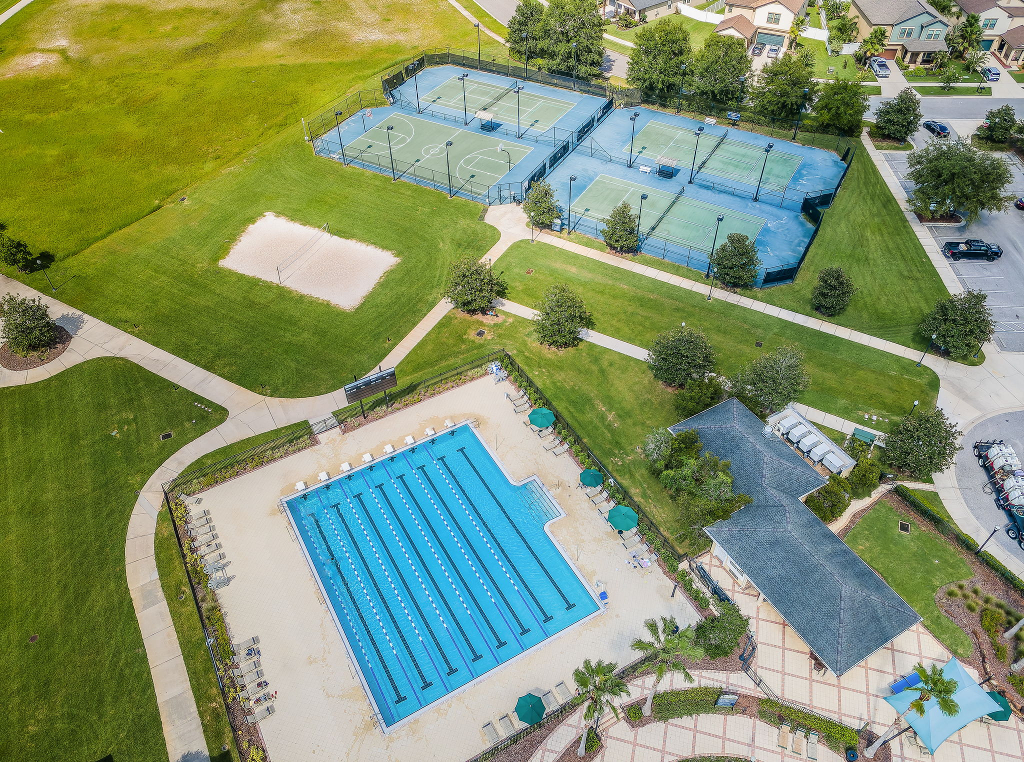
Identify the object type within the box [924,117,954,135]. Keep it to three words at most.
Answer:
car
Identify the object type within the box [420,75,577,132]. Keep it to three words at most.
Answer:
tennis court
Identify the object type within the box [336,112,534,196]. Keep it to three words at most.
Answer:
basketball court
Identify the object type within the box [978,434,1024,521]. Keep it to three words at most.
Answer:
trailer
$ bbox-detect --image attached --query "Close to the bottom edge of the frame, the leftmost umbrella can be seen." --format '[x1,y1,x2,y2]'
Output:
[513,691,548,727]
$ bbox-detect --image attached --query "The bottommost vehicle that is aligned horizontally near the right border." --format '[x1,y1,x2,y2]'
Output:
[945,238,1008,260]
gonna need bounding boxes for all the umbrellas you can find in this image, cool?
[606,506,640,534]
[528,409,555,429]
[578,467,605,490]
[513,691,548,727]
[979,687,1018,726]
